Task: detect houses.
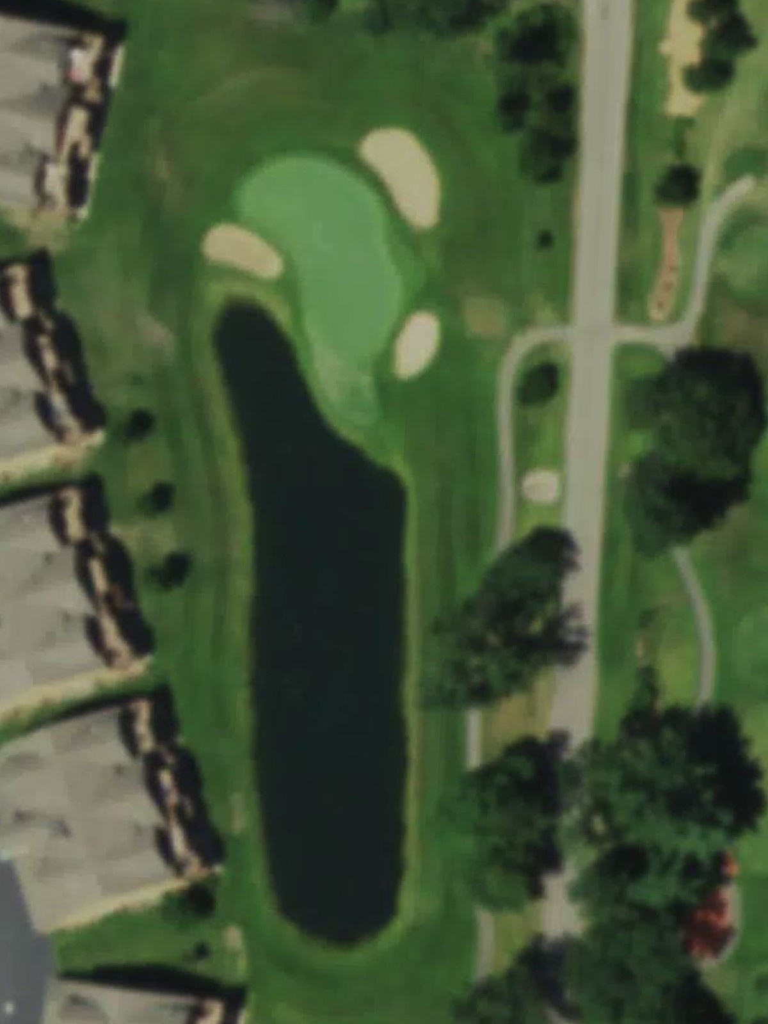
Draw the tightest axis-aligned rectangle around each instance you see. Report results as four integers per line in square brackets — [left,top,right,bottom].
[0,14,102,218]
[0,485,129,714]
[0,260,79,466]
[0,695,200,936]
[32,973,224,1024]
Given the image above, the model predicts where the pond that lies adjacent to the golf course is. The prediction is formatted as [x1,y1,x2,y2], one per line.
[218,302,409,944]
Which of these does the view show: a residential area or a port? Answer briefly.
residential area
